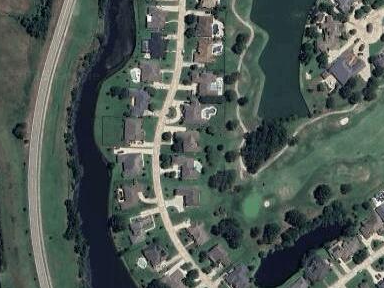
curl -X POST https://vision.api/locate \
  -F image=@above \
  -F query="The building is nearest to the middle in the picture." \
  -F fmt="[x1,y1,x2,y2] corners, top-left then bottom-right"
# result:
[175,133,202,152]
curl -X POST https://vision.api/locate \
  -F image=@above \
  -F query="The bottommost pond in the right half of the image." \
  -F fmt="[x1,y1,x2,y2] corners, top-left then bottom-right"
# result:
[255,222,347,288]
